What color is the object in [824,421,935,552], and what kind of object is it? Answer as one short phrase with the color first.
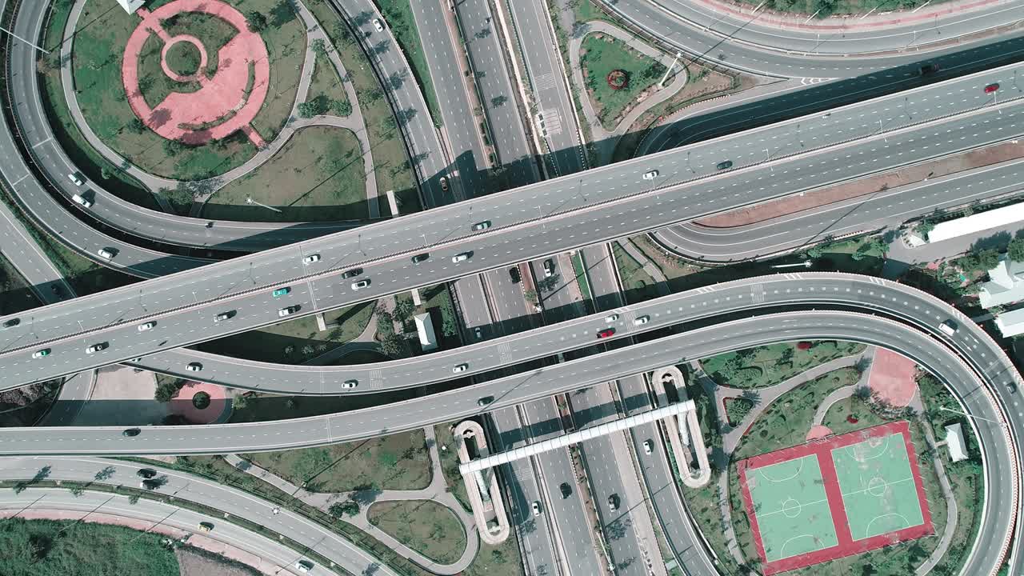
green sports court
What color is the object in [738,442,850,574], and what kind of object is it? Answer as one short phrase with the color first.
green sports court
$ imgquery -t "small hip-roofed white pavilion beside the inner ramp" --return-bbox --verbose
[940,423,968,461]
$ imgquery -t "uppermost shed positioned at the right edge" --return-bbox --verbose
[923,202,1024,244]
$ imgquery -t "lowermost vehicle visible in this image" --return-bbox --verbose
[296,559,311,573]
